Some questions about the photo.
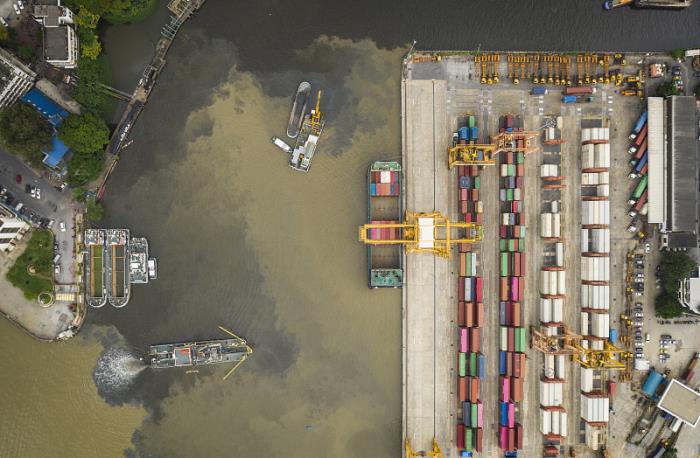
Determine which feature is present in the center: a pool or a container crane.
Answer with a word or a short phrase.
container crane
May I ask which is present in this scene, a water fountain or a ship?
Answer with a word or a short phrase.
ship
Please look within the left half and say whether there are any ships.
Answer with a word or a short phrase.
Yes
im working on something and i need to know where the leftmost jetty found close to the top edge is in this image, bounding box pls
[103,0,204,157]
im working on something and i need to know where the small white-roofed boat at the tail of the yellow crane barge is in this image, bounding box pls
[273,137,291,153]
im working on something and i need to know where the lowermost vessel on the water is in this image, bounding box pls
[145,327,254,383]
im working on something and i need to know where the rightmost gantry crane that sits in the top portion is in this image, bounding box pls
[491,131,539,160]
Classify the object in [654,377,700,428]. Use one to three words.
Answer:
building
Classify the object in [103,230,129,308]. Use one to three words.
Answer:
ship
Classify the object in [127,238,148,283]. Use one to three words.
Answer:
boat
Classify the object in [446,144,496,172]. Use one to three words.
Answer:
container crane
